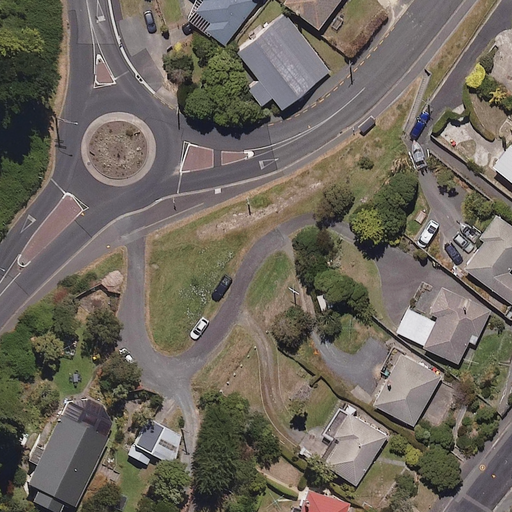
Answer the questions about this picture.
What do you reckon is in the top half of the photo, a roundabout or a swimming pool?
roundabout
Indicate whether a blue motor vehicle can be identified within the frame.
Yes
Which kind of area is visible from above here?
residential area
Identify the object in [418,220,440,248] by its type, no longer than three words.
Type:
car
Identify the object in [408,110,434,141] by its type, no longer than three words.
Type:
truck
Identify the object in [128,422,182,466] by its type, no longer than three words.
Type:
shed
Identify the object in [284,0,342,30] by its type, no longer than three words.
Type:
house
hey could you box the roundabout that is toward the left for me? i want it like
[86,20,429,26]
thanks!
[80,112,156,186]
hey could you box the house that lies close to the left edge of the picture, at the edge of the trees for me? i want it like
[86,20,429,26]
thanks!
[23,400,112,512]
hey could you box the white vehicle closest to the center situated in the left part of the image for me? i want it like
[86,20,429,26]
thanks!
[190,316,210,342]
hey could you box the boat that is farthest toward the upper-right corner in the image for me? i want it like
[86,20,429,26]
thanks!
[412,139,426,168]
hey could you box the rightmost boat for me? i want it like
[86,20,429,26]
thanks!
[460,223,481,243]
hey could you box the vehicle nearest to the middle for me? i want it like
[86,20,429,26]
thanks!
[212,274,233,302]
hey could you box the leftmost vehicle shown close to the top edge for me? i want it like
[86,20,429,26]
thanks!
[142,8,156,34]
